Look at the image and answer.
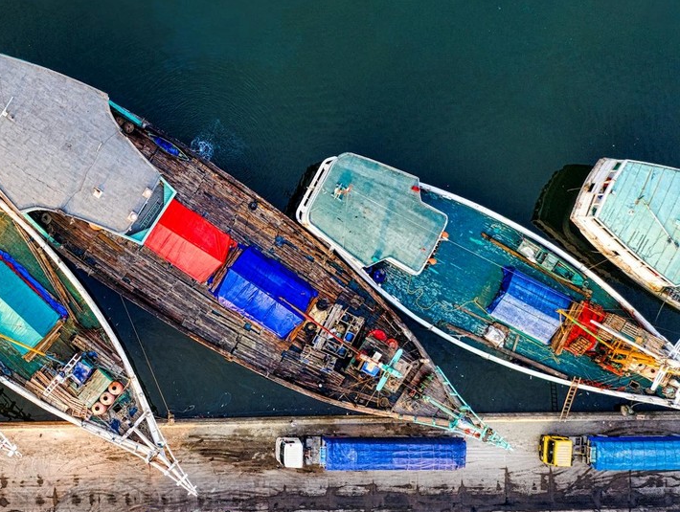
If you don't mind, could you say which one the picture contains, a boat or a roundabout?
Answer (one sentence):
It is a boat that can be seen here.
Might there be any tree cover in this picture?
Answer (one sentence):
No, the scene doesn't show any tree cover.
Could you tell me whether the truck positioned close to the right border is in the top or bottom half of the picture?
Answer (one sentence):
Seen from above, the truck positioned close to the right border lies in the bottom half of the view.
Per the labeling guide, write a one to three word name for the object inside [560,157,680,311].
boat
